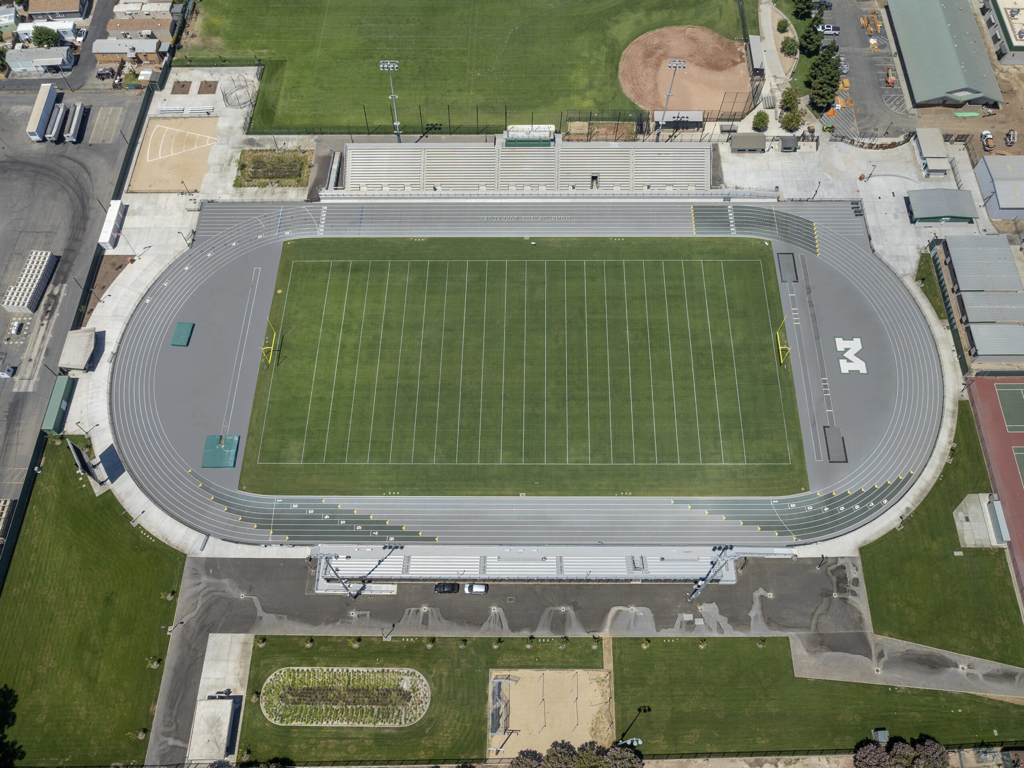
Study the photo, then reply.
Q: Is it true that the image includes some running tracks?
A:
Yes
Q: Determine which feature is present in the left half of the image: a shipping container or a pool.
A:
shipping container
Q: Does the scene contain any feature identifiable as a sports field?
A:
Yes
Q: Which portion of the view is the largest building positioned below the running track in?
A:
bottom left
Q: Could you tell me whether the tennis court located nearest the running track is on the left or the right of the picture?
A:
right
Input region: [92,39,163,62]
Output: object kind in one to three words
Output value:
house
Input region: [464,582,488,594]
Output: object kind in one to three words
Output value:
vehicle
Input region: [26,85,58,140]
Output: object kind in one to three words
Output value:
trailer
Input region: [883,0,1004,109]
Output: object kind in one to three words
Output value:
building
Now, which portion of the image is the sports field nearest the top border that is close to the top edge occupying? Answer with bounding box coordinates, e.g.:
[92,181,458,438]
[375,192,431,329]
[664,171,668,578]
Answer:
[170,0,760,136]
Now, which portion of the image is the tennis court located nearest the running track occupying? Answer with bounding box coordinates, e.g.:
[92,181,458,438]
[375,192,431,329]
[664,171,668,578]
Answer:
[969,376,1024,607]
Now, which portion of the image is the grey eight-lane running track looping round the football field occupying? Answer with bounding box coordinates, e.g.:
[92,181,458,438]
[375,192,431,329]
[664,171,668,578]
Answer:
[109,200,944,546]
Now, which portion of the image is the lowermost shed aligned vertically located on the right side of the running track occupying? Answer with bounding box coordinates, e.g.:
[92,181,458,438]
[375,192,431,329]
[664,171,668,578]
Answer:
[988,501,1011,544]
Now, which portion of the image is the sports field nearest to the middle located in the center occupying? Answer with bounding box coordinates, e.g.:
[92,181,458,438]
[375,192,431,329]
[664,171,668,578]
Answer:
[237,237,810,496]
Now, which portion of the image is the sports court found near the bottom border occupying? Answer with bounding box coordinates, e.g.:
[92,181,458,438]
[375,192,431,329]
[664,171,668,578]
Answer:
[487,669,616,764]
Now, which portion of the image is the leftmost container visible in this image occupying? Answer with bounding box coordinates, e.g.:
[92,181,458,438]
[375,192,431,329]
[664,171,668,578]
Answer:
[41,375,76,435]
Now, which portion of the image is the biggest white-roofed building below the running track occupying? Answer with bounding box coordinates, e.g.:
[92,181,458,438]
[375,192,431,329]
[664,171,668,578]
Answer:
[188,694,235,760]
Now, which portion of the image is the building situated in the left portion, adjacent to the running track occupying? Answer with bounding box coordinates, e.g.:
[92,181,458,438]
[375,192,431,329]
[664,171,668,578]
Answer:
[54,328,99,372]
